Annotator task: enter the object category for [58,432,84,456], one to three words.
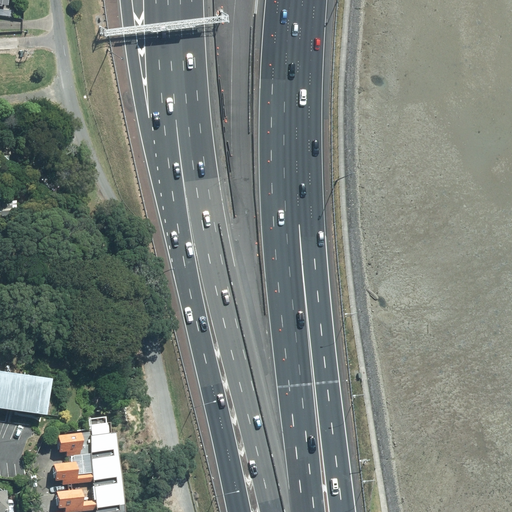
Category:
house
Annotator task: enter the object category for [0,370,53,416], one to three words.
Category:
building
